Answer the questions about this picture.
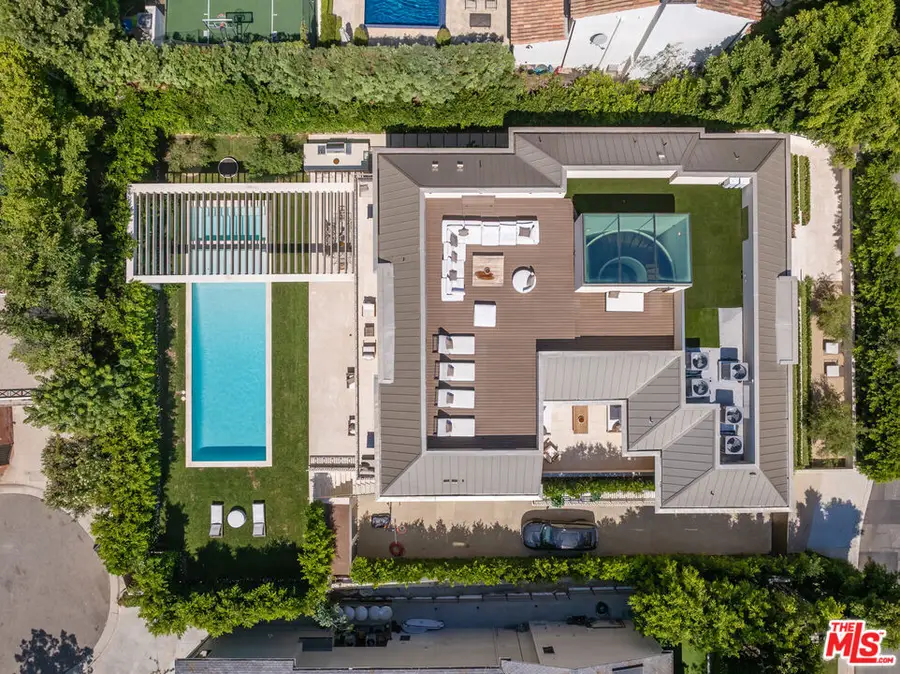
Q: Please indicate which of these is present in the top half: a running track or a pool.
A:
pool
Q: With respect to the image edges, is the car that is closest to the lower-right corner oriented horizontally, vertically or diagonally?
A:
horizontally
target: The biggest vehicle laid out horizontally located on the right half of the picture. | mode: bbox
[521,519,597,555]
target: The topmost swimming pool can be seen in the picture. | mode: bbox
[364,0,446,28]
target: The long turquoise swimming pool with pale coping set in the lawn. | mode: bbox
[181,202,272,467]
